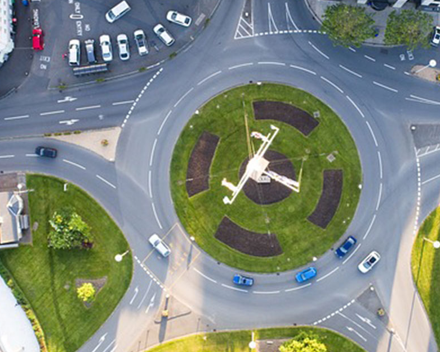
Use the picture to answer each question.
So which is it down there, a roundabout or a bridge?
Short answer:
roundabout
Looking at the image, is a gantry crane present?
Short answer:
No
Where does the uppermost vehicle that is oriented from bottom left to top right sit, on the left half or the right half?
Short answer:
left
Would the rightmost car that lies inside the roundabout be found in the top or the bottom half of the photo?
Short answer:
bottom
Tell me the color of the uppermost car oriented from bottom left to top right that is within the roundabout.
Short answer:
blue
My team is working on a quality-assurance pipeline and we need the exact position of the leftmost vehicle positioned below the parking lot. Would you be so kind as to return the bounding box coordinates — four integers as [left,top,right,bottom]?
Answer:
[34,145,58,158]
